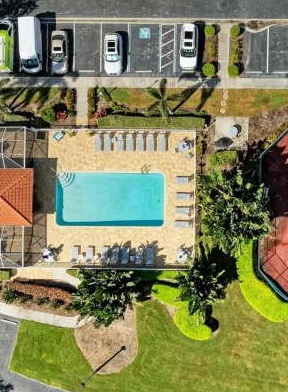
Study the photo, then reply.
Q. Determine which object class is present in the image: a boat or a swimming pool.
swimming pool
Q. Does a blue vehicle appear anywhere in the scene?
No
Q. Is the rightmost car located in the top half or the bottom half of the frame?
top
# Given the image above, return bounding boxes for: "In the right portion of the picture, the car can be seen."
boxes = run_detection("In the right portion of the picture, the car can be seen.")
[178,25,200,70]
